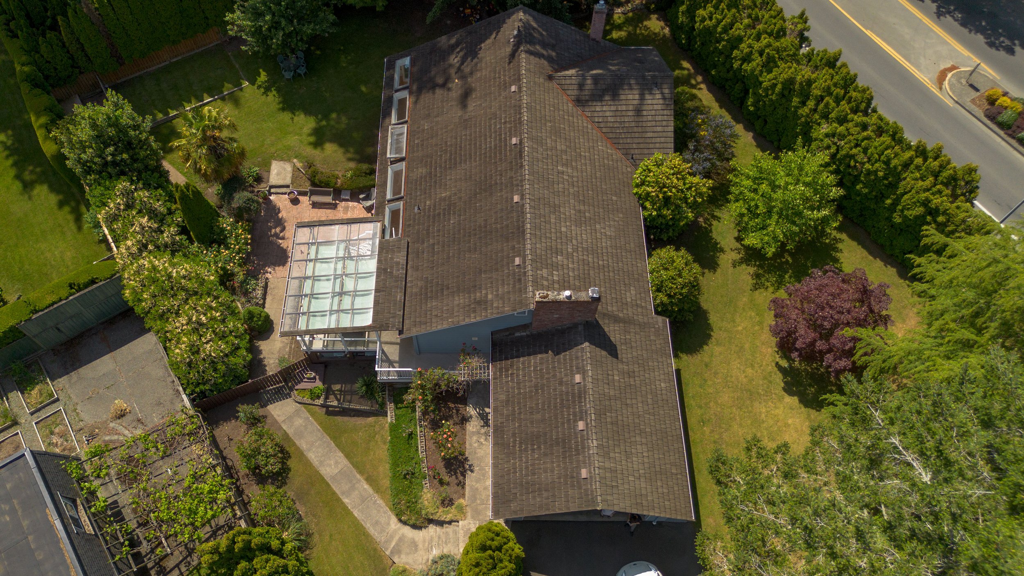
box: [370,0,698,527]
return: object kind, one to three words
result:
house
